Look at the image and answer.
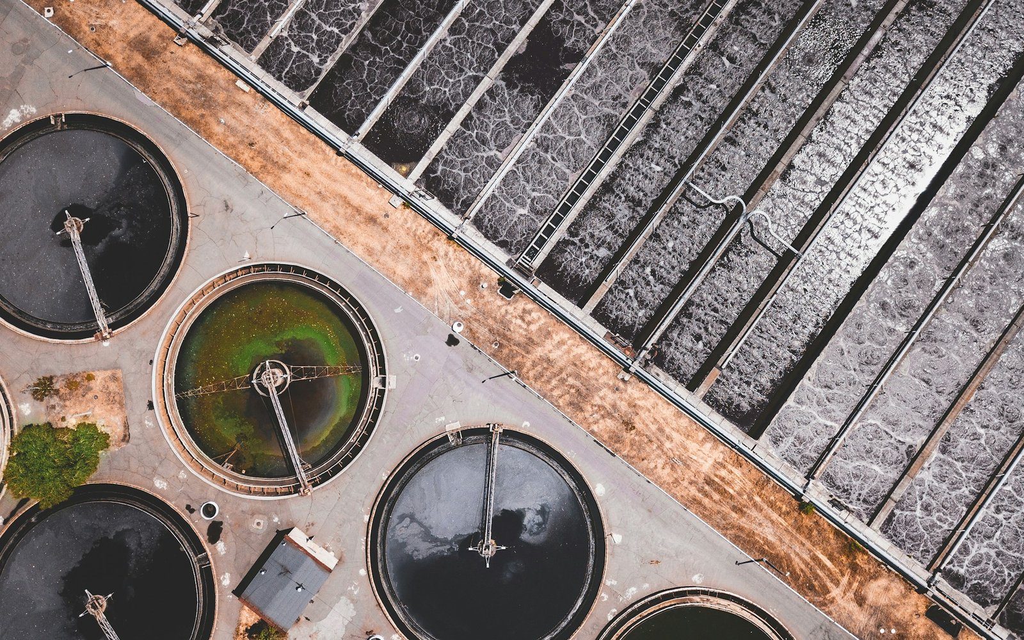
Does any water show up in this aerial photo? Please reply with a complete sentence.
Yes, water can be seen from above here.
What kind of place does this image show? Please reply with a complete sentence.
What you see here is an industrial area.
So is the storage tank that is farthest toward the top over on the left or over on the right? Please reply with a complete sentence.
The storage tank that is farthest toward the top appears in the left half of the scene.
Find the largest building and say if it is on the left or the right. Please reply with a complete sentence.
The largest building sits on the left side.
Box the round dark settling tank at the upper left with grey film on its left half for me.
[0,110,191,344]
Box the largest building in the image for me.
[238,528,338,633]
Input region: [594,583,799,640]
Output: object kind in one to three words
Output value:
storage tank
